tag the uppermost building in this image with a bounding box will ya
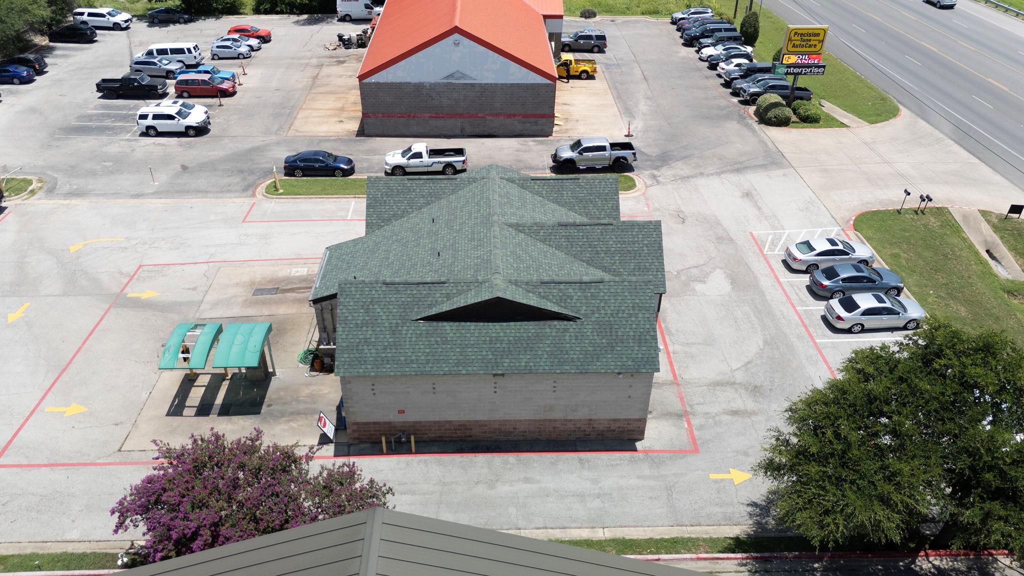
[356,0,564,136]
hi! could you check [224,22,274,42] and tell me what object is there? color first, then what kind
red car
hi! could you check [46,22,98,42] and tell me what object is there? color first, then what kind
black car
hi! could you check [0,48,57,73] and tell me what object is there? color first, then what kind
black car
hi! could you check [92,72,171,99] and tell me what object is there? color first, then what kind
black truck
